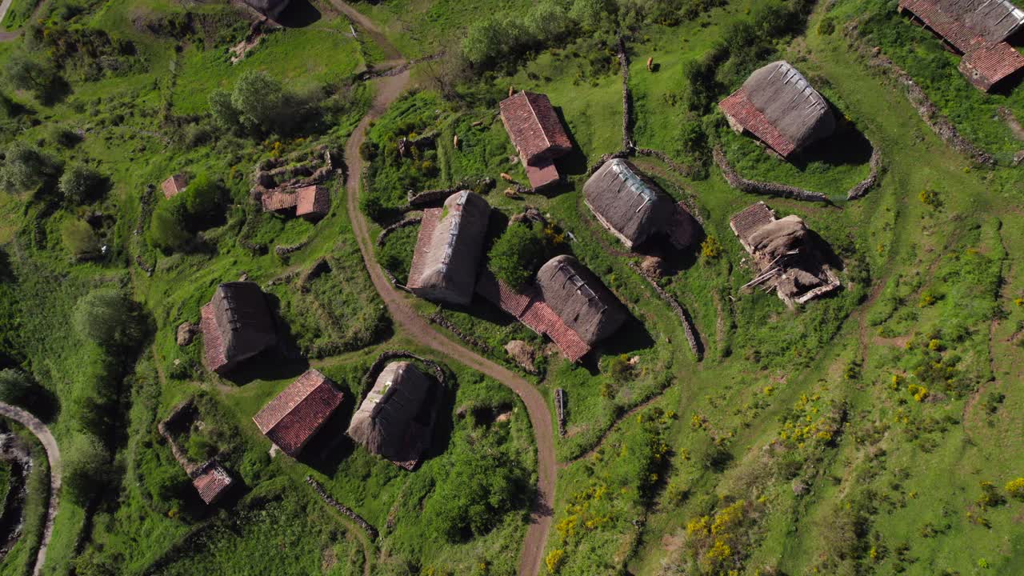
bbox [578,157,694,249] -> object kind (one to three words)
barn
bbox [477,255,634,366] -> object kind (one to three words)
barn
